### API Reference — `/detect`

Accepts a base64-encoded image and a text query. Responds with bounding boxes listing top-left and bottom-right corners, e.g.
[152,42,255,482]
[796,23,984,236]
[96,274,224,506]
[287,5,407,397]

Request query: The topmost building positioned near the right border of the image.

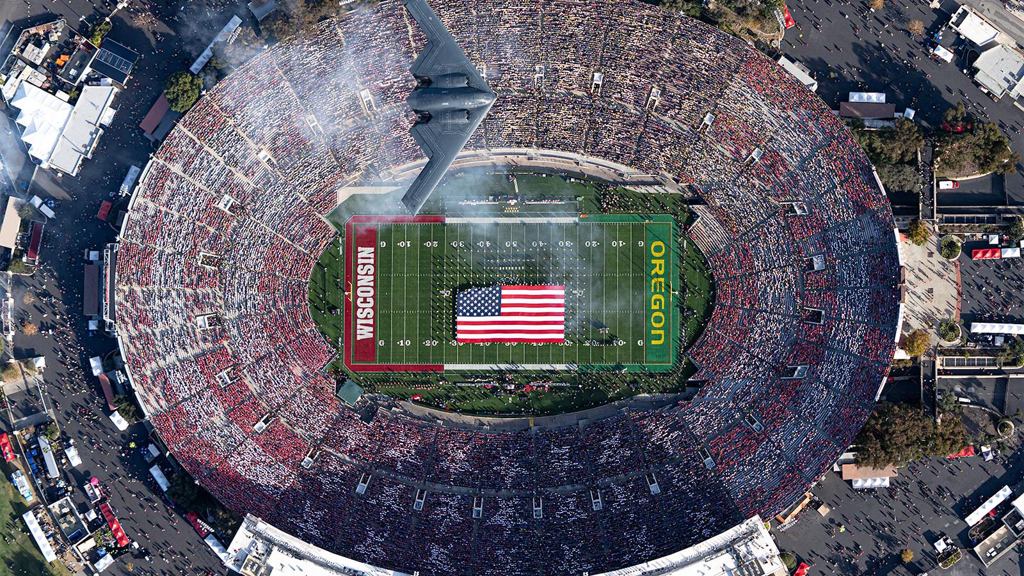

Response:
[945,4,1001,47]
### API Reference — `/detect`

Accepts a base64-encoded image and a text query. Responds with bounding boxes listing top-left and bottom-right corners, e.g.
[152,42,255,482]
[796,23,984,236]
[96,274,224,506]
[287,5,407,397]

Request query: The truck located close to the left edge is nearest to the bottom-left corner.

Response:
[9,472,31,502]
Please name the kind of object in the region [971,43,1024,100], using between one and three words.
building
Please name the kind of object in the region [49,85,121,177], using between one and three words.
building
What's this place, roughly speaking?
sports ground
